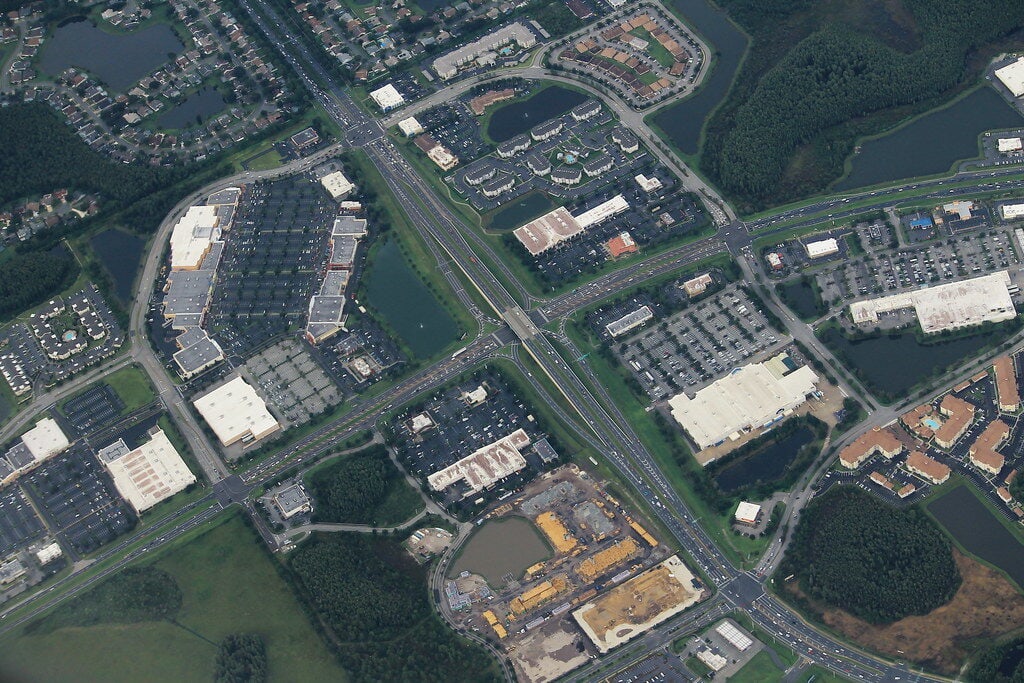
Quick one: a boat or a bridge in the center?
bridge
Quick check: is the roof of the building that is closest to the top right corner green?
No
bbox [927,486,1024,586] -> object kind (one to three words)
pond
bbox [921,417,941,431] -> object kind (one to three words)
swimming pool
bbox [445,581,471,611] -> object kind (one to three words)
house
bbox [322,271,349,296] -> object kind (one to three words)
building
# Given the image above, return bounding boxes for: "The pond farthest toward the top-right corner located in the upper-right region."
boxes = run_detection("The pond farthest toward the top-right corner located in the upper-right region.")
[830,87,1024,194]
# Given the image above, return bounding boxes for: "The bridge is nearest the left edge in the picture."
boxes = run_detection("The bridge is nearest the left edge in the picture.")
[498,301,541,339]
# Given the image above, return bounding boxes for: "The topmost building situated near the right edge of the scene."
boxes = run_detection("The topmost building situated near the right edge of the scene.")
[994,56,1024,100]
